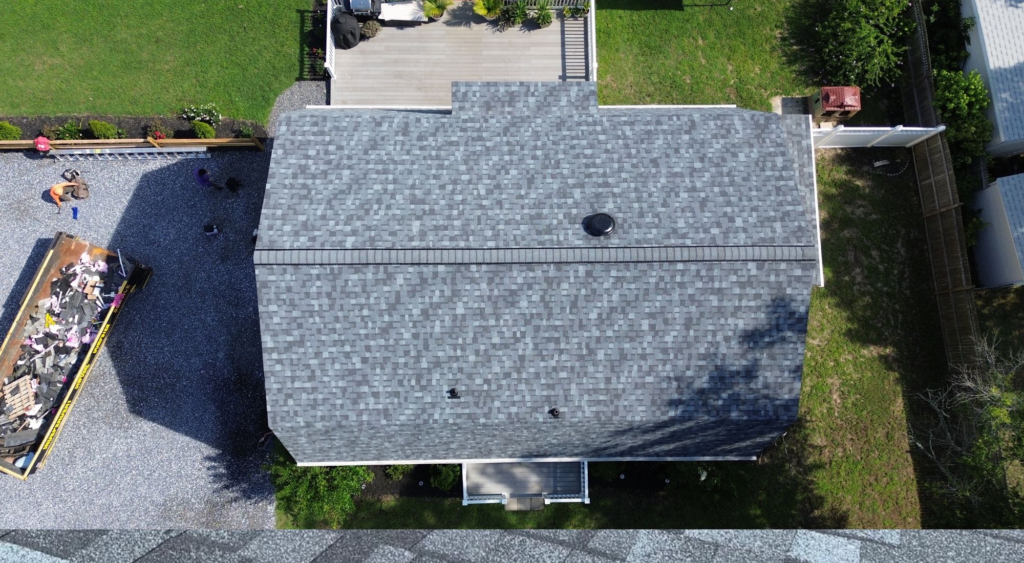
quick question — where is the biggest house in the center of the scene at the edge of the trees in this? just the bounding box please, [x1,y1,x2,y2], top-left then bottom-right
[251,79,825,470]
